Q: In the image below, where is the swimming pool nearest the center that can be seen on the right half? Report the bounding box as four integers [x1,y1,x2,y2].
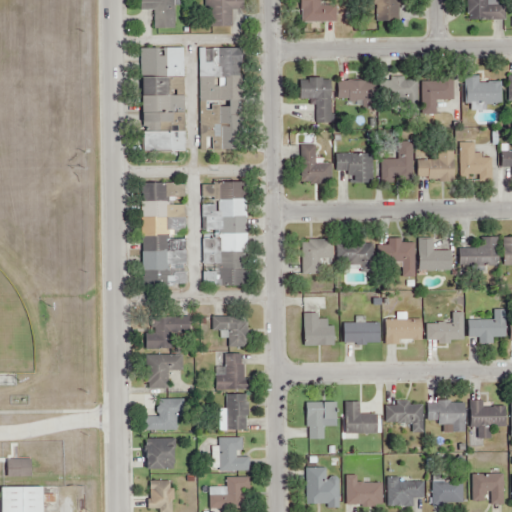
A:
[344,270,367,284]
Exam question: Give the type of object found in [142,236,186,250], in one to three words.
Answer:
house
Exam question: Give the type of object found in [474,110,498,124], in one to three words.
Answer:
swimming pool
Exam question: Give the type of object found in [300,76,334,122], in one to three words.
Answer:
house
